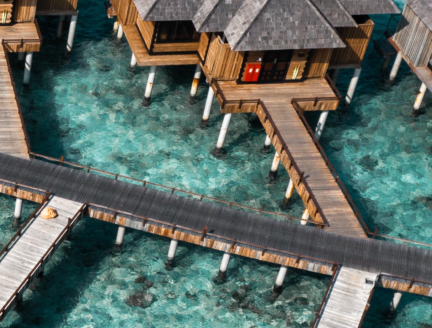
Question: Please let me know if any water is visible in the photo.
Yes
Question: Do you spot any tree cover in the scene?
No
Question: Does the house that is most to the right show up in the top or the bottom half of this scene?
top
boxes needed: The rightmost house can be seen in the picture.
[381,0,432,108]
